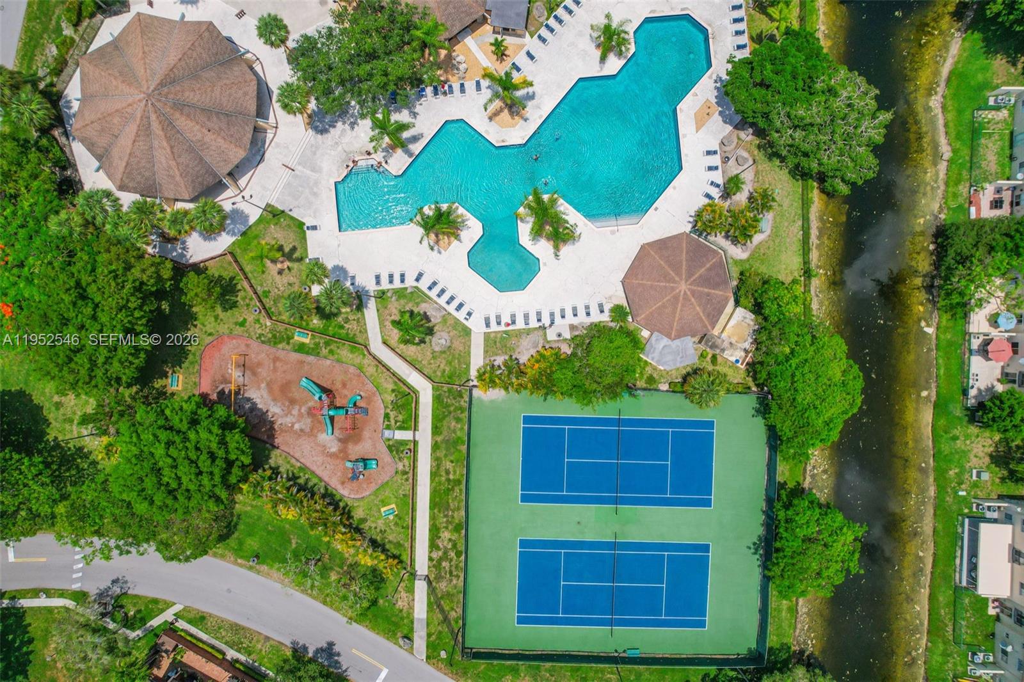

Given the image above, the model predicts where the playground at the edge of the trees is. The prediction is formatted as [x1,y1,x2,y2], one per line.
[198,334,397,499]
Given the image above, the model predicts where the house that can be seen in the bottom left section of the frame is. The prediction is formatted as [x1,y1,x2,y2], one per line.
[130,634,246,682]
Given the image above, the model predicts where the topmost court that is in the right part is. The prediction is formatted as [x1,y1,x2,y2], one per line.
[469,388,767,528]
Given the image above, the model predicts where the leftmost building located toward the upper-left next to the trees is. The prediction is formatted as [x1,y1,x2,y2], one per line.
[72,13,279,215]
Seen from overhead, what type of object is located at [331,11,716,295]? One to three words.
swimming pool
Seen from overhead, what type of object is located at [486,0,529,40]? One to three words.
shed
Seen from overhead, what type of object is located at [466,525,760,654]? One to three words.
tennis court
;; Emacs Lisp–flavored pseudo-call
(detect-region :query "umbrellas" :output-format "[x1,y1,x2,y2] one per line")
[990,311,1015,332]
[985,338,1011,363]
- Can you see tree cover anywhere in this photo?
Yes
